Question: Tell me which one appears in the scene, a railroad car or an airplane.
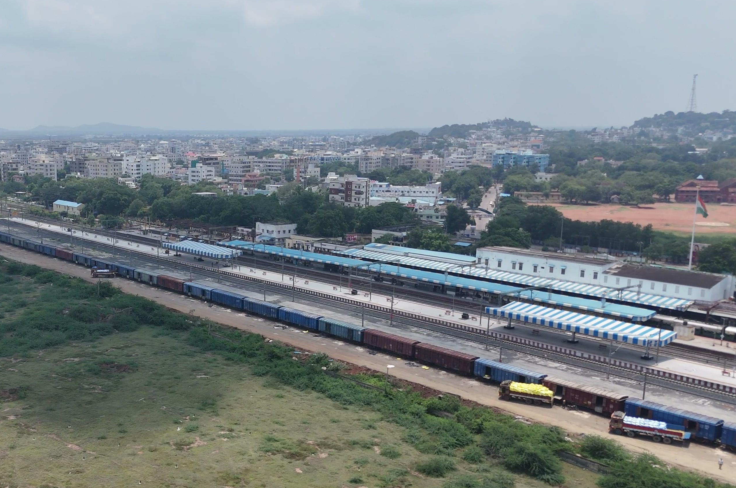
railroad car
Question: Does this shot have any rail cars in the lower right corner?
Yes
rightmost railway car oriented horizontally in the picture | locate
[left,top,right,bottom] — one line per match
[625,393,726,438]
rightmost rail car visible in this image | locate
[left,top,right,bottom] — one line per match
[720,417,736,447]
